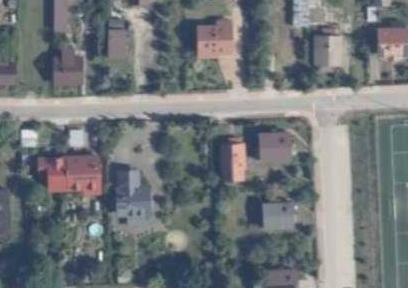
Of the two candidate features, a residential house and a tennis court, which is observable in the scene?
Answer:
residential house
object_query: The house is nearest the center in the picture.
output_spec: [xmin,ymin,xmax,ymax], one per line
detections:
[220,137,246,184]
